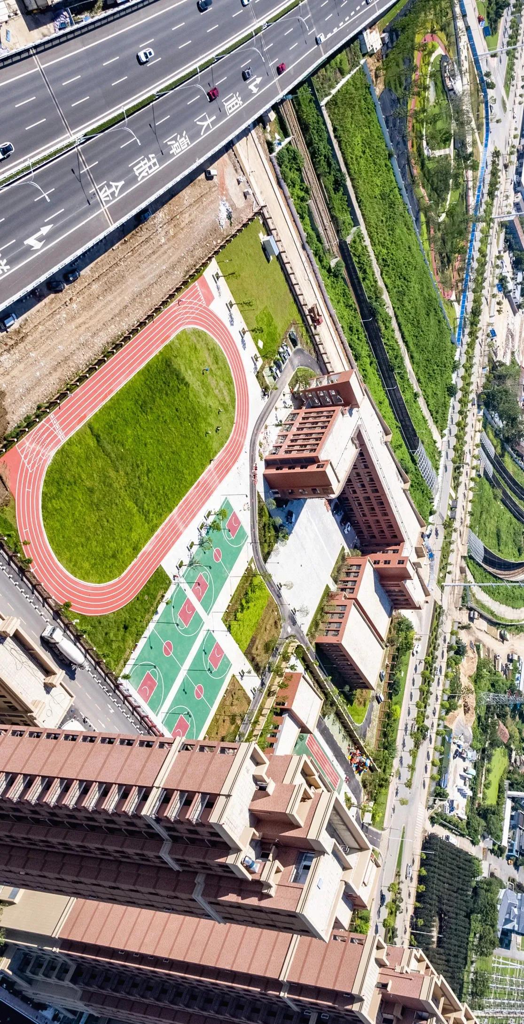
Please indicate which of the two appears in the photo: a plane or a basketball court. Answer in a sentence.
This aerial view contains a basketball court.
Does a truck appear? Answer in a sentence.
Yes, the frame does contain a truck.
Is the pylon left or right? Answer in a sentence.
The pylon sits on the right side.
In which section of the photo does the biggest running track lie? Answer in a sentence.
The biggest running track is in the left part of the image.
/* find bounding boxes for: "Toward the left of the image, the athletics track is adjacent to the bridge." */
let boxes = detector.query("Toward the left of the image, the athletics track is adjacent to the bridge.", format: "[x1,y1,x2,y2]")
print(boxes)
[1,277,249,617]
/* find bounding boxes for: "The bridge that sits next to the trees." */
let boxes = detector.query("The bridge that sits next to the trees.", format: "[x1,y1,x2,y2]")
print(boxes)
[0,0,405,314]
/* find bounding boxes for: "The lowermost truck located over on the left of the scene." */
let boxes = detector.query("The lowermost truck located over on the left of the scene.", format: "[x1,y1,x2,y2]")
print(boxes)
[46,631,92,672]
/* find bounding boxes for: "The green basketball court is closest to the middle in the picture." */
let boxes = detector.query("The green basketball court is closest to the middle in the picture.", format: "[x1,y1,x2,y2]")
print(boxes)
[183,497,248,614]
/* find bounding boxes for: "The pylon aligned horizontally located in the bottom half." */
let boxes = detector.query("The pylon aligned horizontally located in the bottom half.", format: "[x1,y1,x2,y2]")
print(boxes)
[477,688,524,710]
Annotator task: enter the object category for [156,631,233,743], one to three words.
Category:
basketball court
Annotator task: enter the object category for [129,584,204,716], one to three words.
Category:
basketball court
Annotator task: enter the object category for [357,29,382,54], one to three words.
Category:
building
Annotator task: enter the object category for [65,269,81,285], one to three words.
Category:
car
